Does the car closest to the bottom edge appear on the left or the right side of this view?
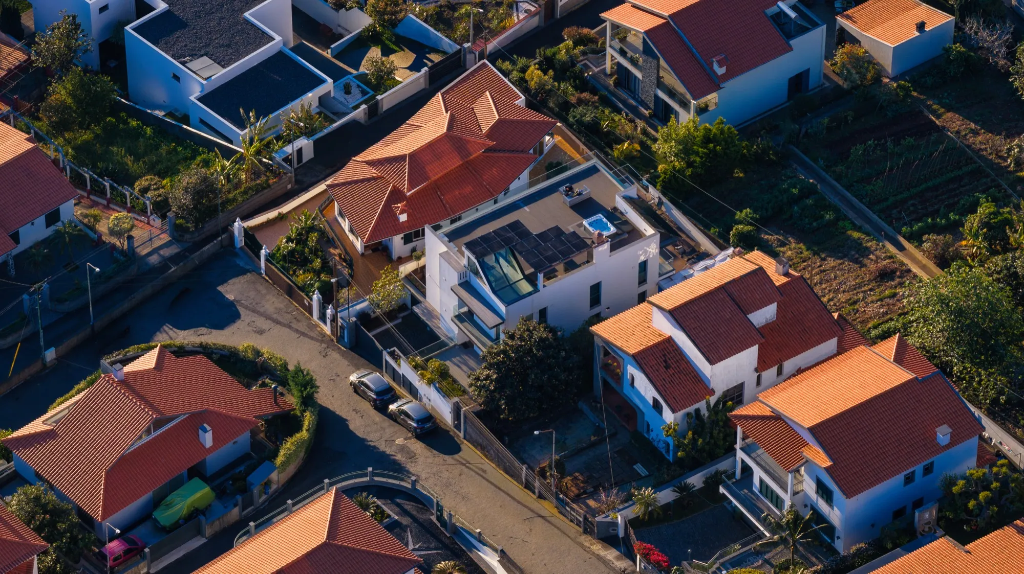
left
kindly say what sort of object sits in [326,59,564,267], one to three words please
house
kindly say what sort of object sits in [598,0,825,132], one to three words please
house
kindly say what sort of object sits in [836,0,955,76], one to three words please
shed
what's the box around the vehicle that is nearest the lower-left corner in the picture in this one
[101,535,146,567]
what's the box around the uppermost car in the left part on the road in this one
[350,371,395,408]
